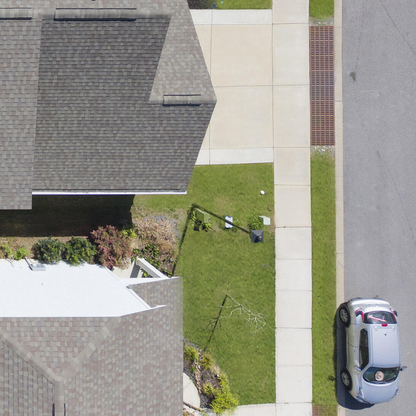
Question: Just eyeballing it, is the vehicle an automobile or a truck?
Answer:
automobile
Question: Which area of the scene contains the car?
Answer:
bottom right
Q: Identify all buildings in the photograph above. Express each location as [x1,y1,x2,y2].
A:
[0,0,217,210]
[0,253,182,416]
